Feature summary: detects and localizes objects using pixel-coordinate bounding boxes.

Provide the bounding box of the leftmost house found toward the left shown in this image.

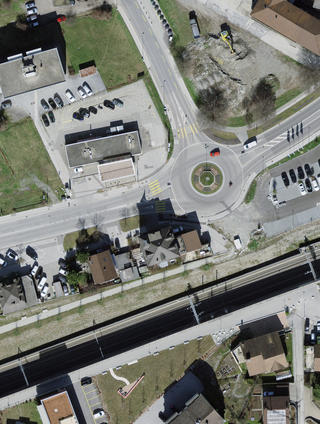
[0,278,26,314]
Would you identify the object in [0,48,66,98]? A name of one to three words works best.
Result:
building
